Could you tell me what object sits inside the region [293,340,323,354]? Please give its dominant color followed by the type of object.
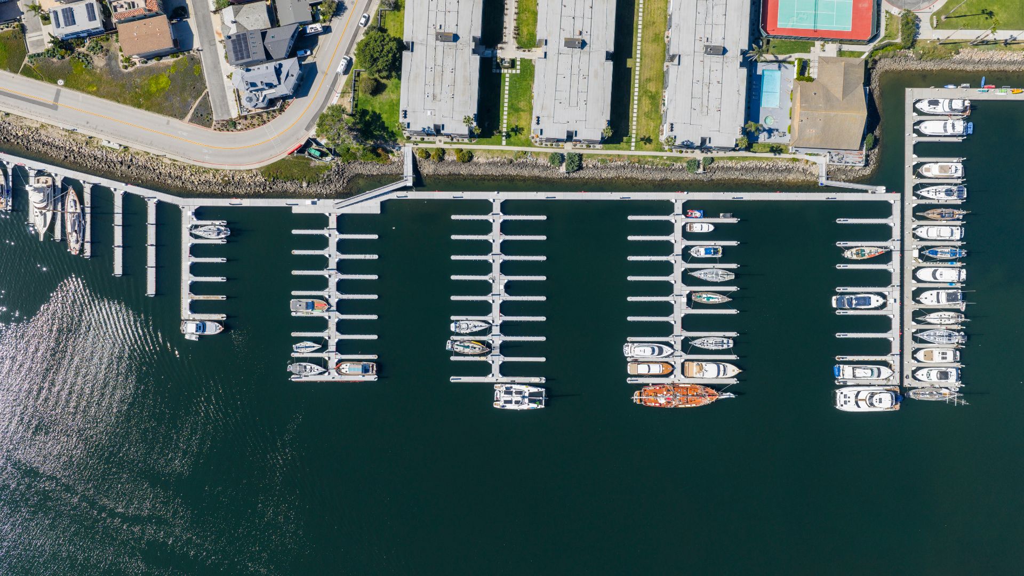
white boat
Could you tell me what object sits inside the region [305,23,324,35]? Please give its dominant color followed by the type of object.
white vehicle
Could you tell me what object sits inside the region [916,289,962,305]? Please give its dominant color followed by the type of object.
white boat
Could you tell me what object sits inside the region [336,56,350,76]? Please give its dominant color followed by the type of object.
white vehicle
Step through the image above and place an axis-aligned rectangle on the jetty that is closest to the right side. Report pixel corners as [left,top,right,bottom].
[903,88,1024,387]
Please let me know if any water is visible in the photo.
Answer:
Yes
